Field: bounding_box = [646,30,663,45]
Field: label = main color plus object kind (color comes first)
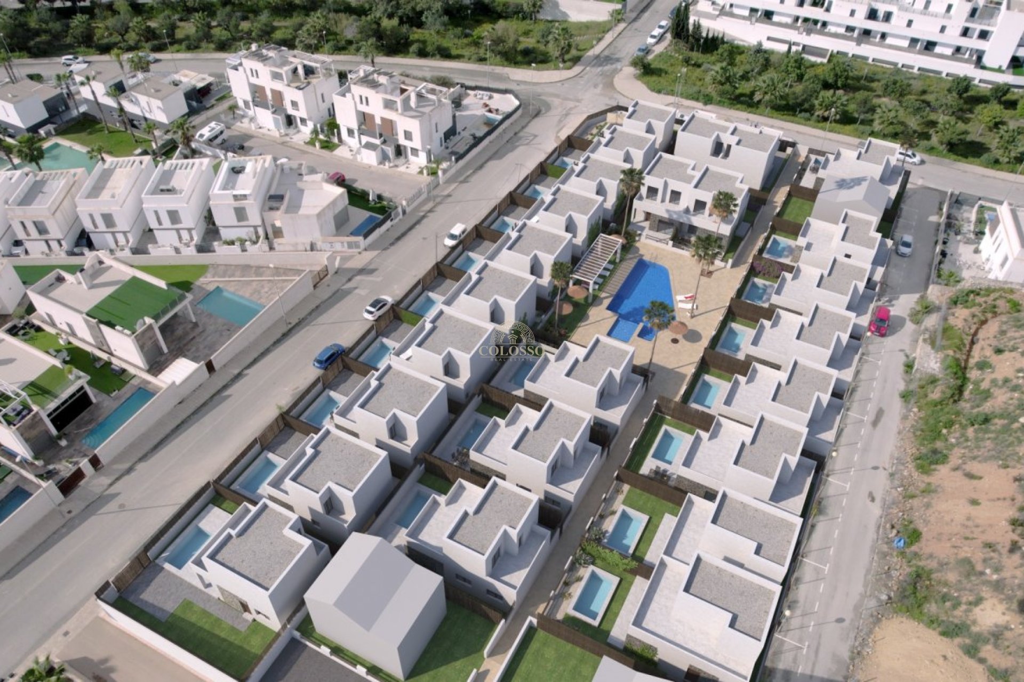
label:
white car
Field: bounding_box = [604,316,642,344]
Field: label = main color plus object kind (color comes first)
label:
blue swimming pool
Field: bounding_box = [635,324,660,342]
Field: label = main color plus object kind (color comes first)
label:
blue swimming pool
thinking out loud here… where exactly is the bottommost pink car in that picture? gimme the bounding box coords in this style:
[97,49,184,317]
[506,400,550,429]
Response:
[871,305,890,335]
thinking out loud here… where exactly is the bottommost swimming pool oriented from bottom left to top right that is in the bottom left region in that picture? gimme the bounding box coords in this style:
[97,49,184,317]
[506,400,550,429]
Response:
[165,527,217,581]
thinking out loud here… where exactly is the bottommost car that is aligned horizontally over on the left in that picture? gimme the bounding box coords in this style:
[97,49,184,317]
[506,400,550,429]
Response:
[321,168,353,184]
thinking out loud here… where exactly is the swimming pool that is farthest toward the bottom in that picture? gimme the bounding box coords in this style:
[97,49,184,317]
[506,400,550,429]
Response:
[566,565,620,626]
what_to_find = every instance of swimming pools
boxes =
[447,422,487,467]
[602,255,679,331]
[409,291,446,318]
[502,360,538,398]
[0,478,37,525]
[234,453,287,499]
[490,216,520,235]
[300,391,349,430]
[165,527,217,581]
[635,324,660,342]
[383,498,427,550]
[600,504,650,559]
[350,214,382,237]
[739,278,771,304]
[524,186,551,201]
[604,316,642,344]
[192,285,267,326]
[554,157,578,170]
[453,251,486,273]
[644,433,685,476]
[77,386,158,450]
[762,240,789,259]
[715,323,750,355]
[358,337,400,370]
[688,375,726,413]
[566,565,620,626]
